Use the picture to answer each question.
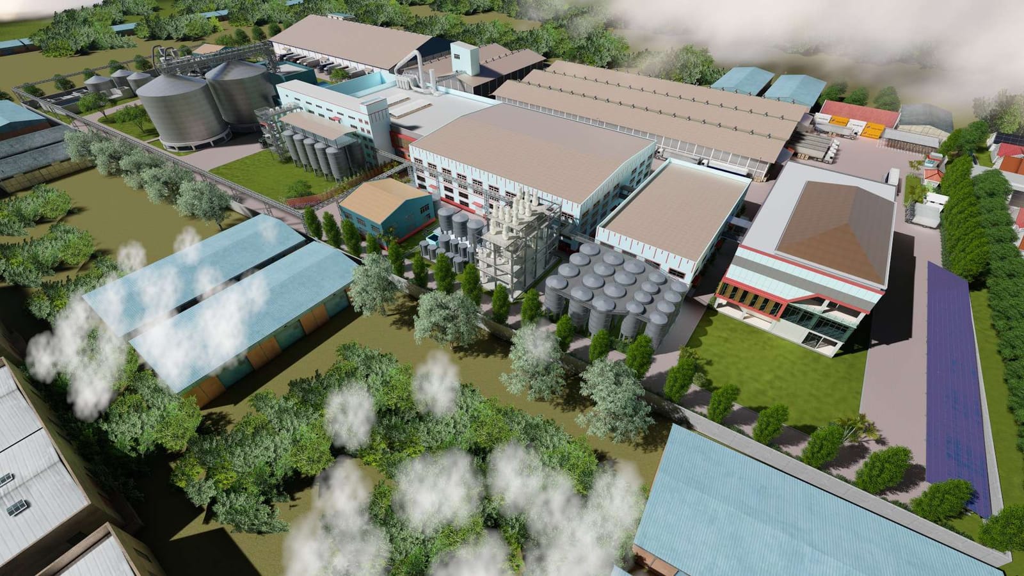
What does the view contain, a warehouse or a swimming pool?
warehouse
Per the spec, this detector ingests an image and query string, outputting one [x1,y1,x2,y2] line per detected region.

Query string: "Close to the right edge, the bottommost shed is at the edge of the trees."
[636,423,1017,576]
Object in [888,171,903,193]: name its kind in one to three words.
vehicle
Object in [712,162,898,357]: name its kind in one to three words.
building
